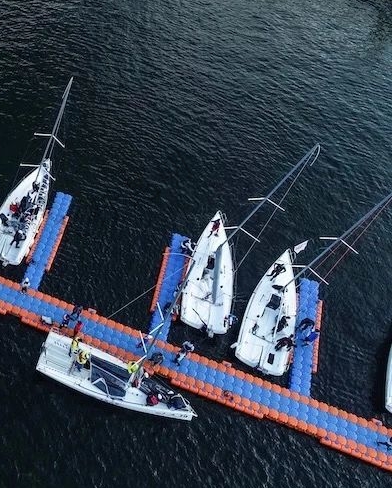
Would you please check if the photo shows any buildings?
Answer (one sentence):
No, no building is visible in the view.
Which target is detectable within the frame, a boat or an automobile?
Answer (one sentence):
There is a boat in the scene.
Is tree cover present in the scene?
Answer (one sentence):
No, the picture contains no tree cover.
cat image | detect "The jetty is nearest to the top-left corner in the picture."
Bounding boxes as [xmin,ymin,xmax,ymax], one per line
[24,193,72,294]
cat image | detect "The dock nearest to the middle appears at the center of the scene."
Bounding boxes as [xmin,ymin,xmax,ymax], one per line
[148,232,188,342]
